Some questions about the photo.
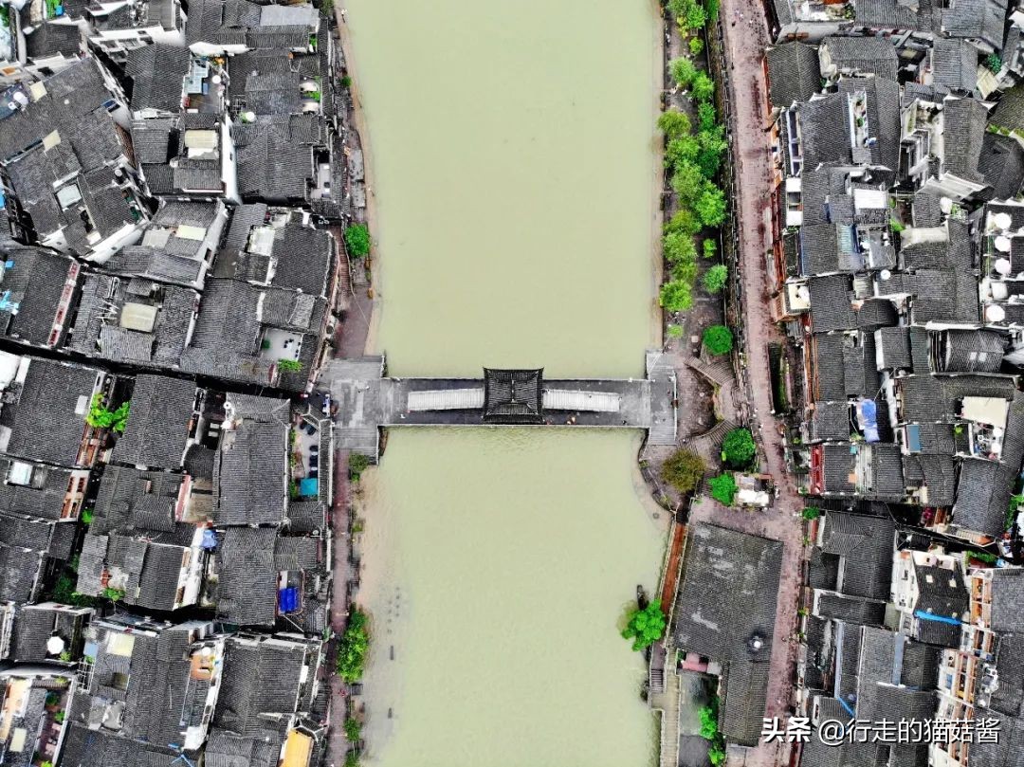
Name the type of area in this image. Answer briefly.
residential area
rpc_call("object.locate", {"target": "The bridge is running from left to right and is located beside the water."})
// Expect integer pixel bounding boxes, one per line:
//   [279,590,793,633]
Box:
[331,349,679,450]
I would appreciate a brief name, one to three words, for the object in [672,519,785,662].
building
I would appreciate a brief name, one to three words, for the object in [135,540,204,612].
house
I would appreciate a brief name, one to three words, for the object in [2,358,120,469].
house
